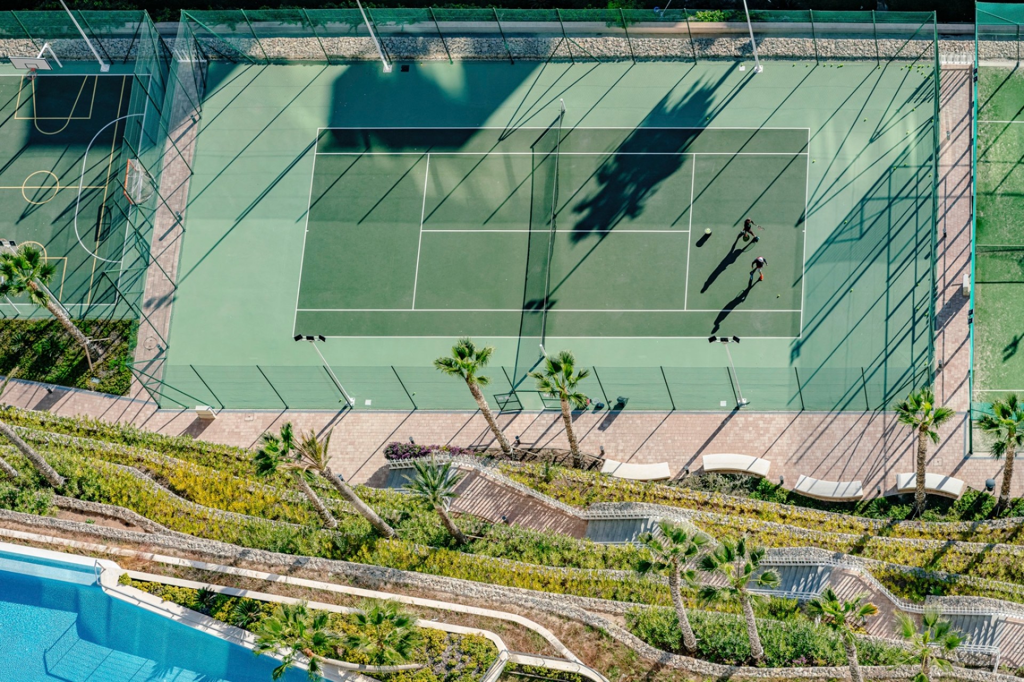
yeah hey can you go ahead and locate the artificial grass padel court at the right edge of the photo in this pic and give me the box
[972,59,1024,455]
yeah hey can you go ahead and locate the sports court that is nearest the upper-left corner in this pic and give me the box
[0,61,176,322]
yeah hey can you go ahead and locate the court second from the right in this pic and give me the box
[155,60,938,411]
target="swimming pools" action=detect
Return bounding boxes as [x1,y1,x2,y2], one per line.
[0,544,376,682]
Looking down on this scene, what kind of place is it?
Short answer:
sports ground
